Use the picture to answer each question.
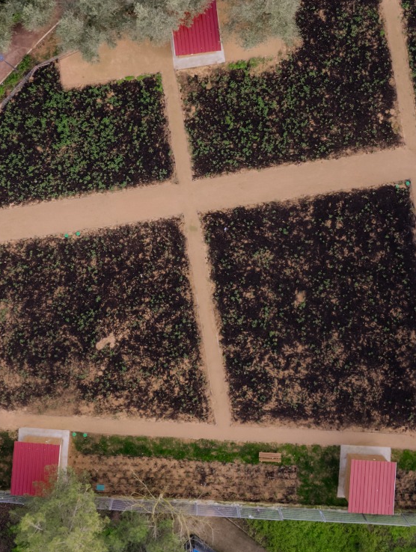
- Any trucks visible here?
No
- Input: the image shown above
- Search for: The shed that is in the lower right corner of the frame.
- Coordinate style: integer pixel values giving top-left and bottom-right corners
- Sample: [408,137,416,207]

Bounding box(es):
[340,448,399,522]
